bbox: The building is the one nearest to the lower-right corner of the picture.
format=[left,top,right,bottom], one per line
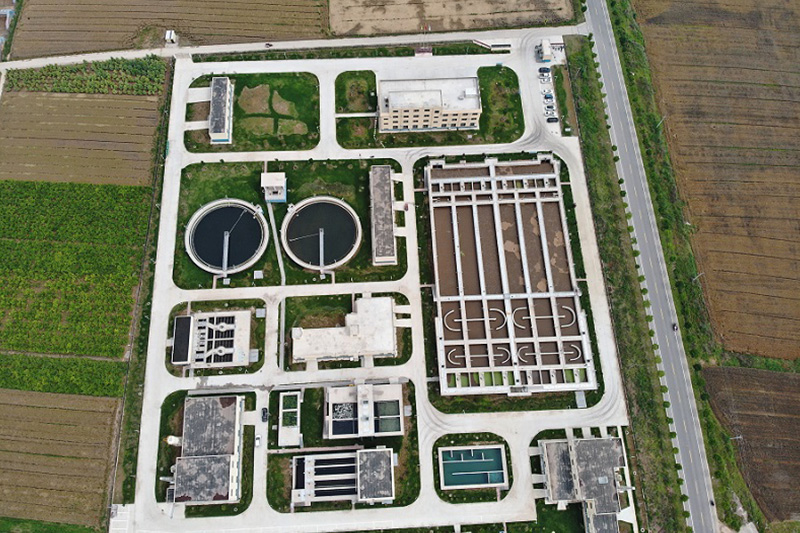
[536,437,625,533]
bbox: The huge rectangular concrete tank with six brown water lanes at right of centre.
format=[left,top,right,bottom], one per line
[423,153,598,399]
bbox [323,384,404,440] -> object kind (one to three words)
water tank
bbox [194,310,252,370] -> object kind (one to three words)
water tank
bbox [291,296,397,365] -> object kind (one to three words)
building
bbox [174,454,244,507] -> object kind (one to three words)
house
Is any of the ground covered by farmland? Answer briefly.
Yes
